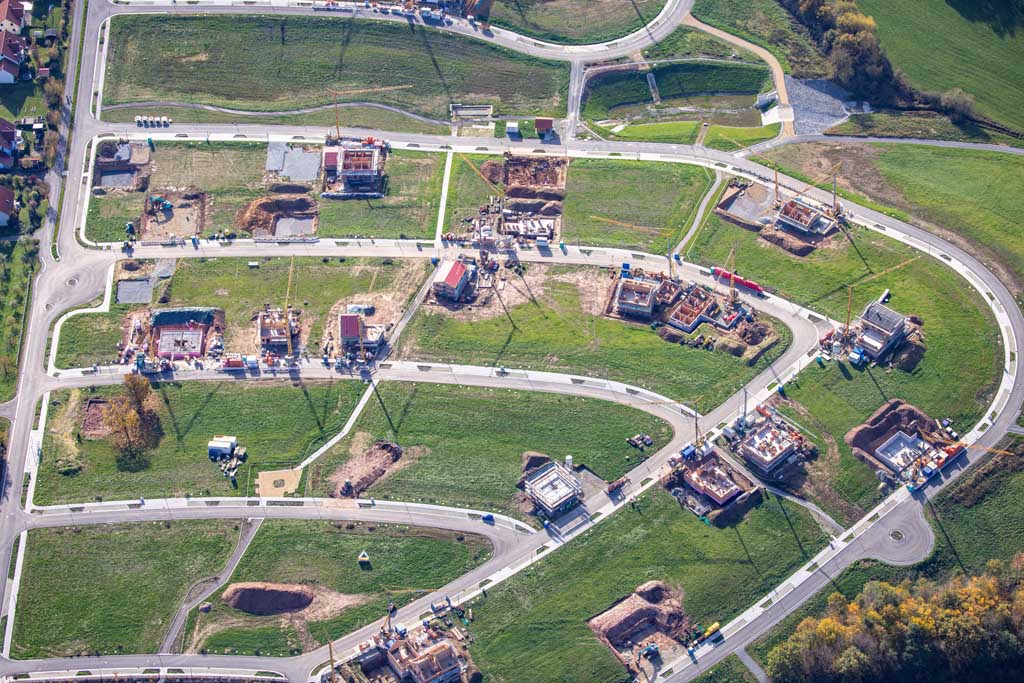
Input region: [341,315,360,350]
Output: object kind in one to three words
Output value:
house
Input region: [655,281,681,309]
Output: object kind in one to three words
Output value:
house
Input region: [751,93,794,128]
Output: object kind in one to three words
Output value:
dam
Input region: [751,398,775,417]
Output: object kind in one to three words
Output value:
vehicle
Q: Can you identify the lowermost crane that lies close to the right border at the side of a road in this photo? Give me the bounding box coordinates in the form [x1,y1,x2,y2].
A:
[916,422,1014,485]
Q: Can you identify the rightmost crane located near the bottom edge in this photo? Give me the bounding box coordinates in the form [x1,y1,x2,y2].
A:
[374,590,439,662]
